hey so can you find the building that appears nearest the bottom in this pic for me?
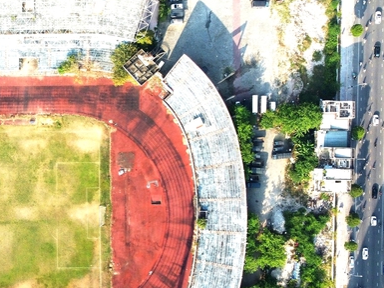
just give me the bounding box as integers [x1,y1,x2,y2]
[303,179,353,194]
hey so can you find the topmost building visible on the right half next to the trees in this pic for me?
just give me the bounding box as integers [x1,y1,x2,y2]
[306,101,359,120]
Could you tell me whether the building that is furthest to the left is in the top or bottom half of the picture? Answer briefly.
top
